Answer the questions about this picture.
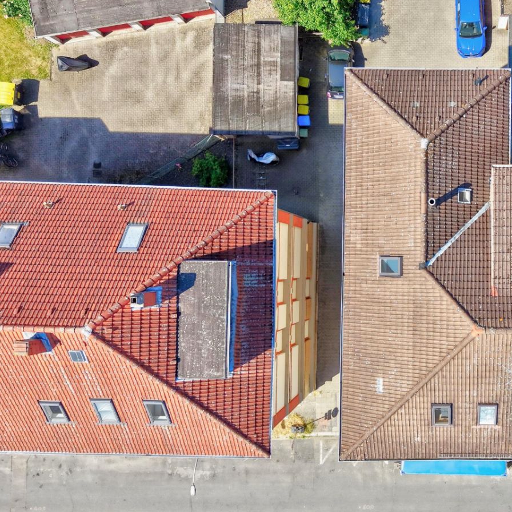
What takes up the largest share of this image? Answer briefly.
buildings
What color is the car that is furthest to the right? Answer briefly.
blue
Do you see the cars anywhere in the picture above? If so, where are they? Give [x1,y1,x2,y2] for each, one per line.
[453,0,490,57]
[321,31,357,97]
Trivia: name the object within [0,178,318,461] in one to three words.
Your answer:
house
